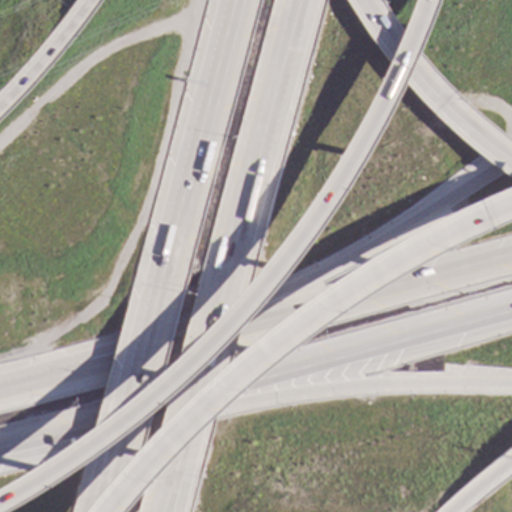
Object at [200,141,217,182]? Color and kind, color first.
white vehicle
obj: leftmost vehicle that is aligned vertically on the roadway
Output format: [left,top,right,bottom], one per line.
[160,224,176,266]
